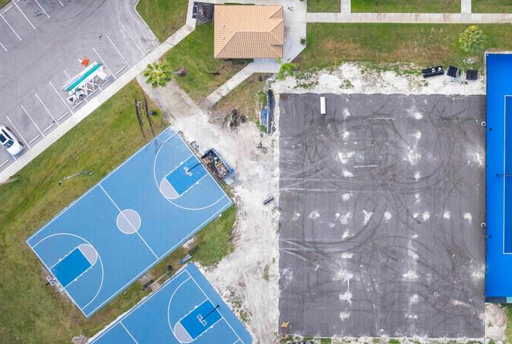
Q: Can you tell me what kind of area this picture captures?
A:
sports ground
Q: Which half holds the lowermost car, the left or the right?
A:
left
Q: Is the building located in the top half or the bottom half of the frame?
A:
top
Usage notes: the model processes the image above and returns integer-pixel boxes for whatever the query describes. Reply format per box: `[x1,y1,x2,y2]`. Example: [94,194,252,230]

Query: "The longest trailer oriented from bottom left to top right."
[60,61,104,104]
